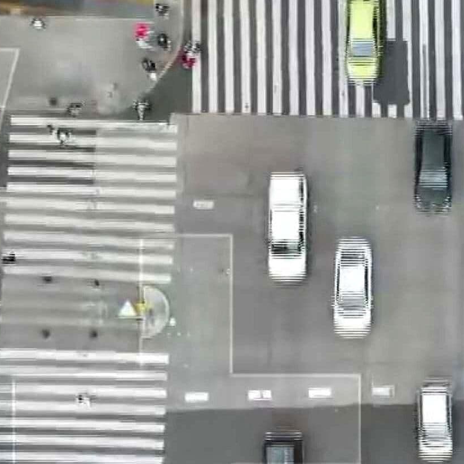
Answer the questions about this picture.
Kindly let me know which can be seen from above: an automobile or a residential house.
automobile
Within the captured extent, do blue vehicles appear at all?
No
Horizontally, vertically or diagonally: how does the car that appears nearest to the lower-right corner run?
vertically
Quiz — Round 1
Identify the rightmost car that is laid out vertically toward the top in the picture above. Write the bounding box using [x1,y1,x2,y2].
[412,120,454,214]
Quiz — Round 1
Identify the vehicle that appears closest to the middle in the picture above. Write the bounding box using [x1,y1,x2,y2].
[264,171,310,282]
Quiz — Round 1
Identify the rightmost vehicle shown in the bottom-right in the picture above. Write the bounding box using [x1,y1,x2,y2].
[413,378,457,462]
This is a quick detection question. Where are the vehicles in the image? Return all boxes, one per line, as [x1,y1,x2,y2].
[264,171,310,282]
[341,0,384,86]
[265,430,303,464]
[412,120,454,214]
[413,378,457,462]
[330,238,375,338]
